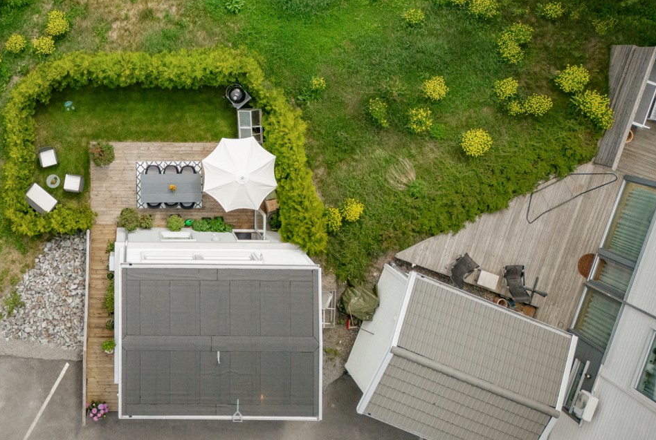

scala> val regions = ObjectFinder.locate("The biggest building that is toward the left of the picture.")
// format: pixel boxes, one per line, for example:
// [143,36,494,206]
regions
[114,208,325,425]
